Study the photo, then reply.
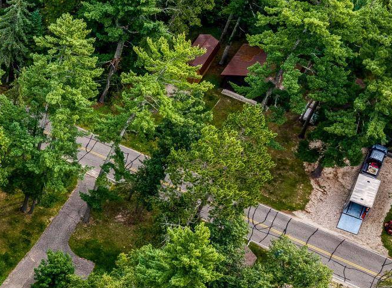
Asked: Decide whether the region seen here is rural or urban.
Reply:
rural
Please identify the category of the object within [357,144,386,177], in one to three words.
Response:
truck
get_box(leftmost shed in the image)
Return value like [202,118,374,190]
[179,32,219,79]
